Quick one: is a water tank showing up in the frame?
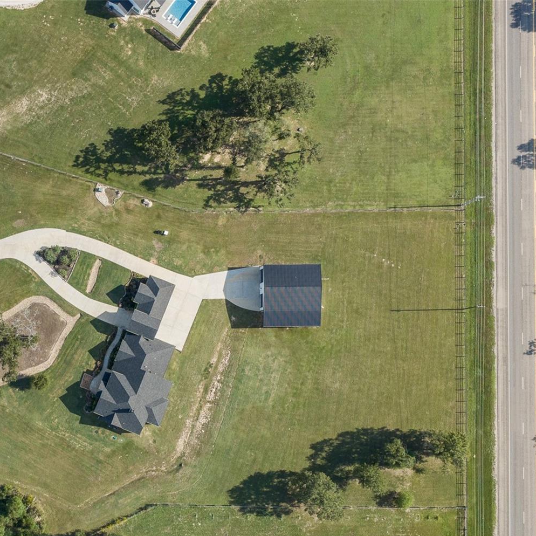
No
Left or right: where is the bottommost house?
left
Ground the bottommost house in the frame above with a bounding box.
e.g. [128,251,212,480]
[93,332,176,435]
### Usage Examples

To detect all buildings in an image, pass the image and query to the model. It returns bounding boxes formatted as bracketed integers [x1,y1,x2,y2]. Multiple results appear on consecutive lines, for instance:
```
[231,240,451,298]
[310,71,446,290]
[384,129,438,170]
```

[93,332,176,435]
[260,264,329,327]
[108,0,150,17]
